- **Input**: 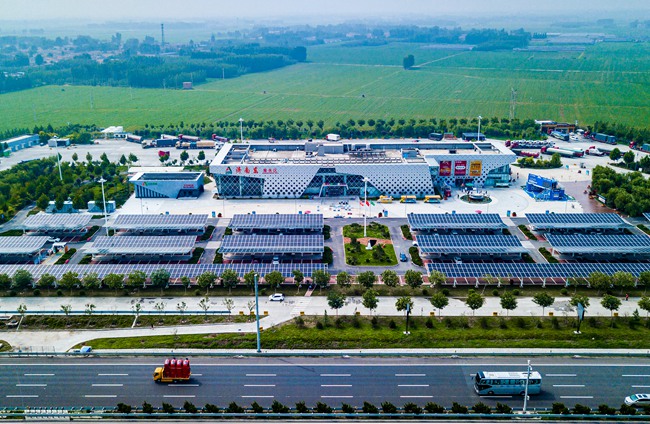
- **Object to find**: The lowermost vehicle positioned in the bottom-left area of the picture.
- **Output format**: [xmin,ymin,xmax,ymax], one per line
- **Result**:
[151,361,192,385]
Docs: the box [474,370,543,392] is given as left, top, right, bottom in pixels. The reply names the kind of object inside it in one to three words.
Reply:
bus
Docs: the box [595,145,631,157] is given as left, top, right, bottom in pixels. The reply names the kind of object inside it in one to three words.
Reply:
vehicle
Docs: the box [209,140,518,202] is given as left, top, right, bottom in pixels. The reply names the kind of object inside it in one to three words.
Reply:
building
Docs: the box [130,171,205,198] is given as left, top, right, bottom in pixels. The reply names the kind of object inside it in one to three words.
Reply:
building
